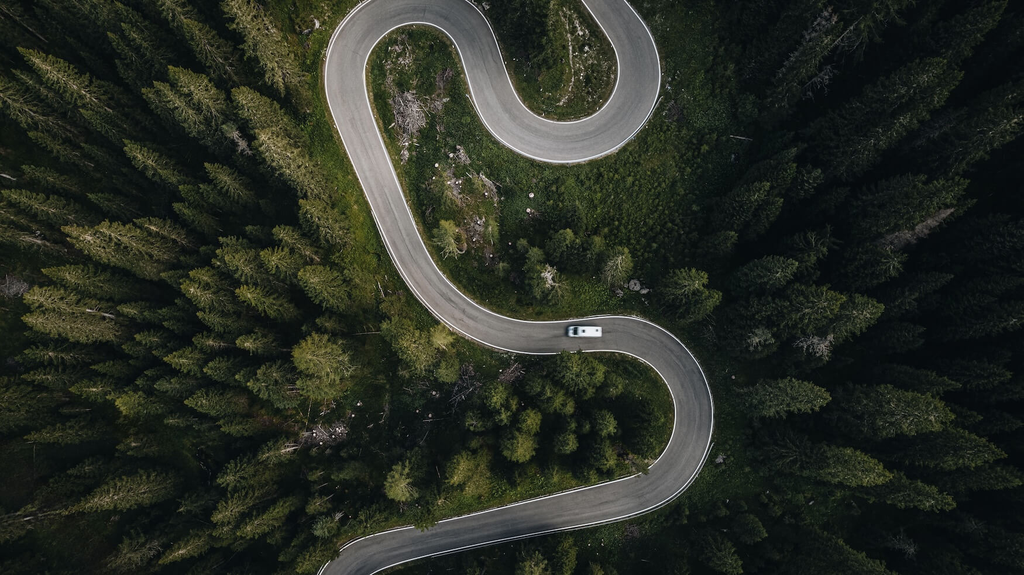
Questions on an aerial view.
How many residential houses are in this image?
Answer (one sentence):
No residential houses are visible.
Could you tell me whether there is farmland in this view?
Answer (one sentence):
No, there is no farmland in the image.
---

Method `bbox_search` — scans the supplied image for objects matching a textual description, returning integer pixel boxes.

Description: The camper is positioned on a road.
[566,325,602,339]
